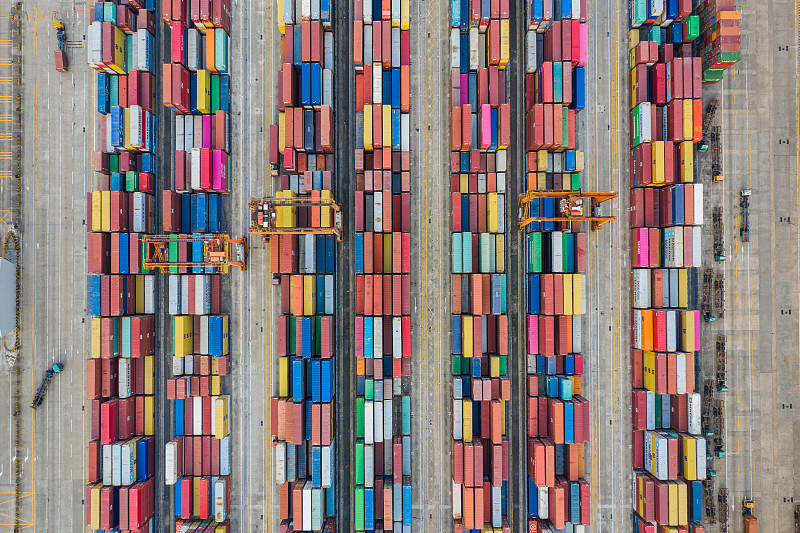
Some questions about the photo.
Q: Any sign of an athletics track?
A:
No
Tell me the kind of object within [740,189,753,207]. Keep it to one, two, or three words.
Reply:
vehicle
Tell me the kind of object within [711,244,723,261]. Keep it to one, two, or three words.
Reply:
vehicle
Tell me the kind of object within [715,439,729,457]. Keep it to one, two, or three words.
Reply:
work vehicle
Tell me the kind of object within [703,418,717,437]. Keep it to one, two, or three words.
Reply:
work vehicle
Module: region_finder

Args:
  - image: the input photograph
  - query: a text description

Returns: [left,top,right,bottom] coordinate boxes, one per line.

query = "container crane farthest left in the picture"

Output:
[141,231,249,274]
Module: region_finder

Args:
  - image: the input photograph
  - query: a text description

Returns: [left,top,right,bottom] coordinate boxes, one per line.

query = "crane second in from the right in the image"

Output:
[247,197,344,244]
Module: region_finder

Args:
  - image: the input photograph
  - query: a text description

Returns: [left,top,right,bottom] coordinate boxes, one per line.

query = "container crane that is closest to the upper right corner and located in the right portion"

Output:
[516,185,621,233]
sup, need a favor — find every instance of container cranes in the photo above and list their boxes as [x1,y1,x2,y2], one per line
[141,231,249,274]
[247,197,344,244]
[516,185,621,233]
